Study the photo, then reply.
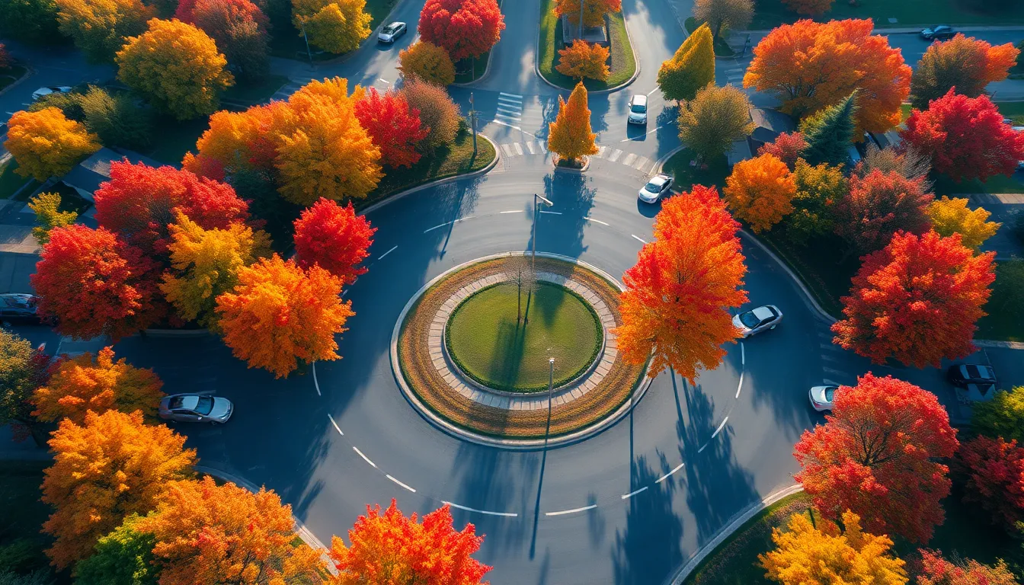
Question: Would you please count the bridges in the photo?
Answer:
0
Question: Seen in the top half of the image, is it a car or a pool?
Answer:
car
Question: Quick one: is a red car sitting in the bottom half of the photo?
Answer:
No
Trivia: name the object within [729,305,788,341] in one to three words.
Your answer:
car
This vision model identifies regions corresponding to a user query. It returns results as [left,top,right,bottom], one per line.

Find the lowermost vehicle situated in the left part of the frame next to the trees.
[156,392,236,427]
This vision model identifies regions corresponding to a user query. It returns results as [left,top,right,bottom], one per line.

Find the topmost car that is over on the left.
[378,22,406,44]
